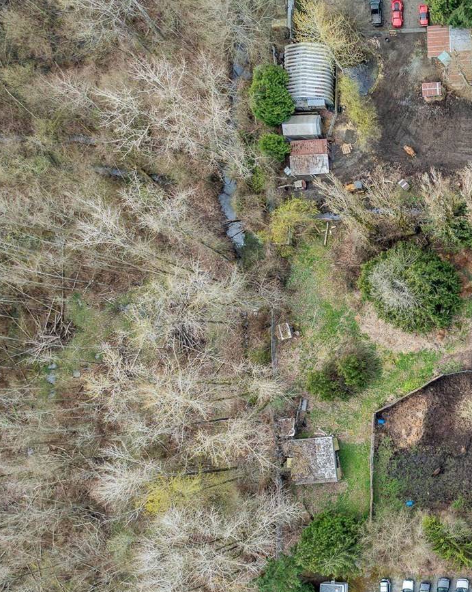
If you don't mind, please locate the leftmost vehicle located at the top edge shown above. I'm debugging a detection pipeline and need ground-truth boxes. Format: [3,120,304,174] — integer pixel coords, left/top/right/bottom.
[369,0,384,29]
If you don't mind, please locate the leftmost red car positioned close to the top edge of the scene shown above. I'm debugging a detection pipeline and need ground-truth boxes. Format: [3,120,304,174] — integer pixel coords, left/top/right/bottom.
[391,0,405,29]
